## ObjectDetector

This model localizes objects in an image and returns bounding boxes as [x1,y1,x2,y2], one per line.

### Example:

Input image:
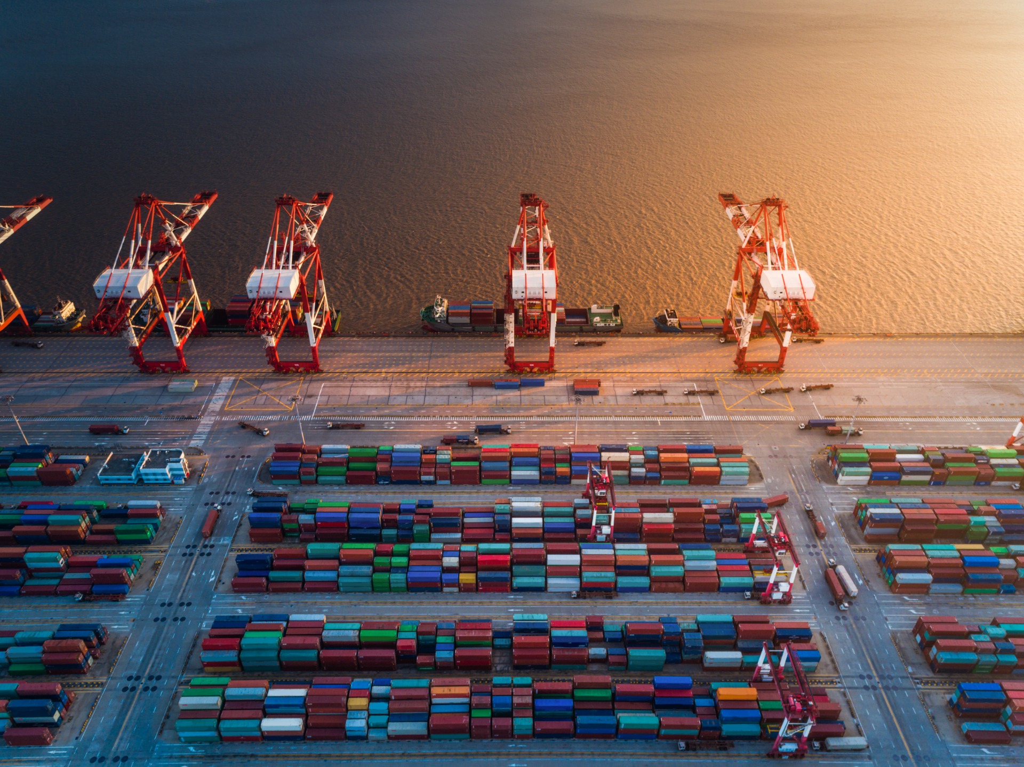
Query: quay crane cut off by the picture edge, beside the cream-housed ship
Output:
[0,191,53,337]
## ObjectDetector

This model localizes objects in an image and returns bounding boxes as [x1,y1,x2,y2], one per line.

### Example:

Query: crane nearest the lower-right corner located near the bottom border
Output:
[748,639,823,763]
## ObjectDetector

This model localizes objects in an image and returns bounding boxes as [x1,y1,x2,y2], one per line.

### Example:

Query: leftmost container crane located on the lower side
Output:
[584,457,620,546]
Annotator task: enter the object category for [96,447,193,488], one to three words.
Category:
building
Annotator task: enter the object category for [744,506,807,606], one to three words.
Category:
container crane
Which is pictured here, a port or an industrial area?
port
